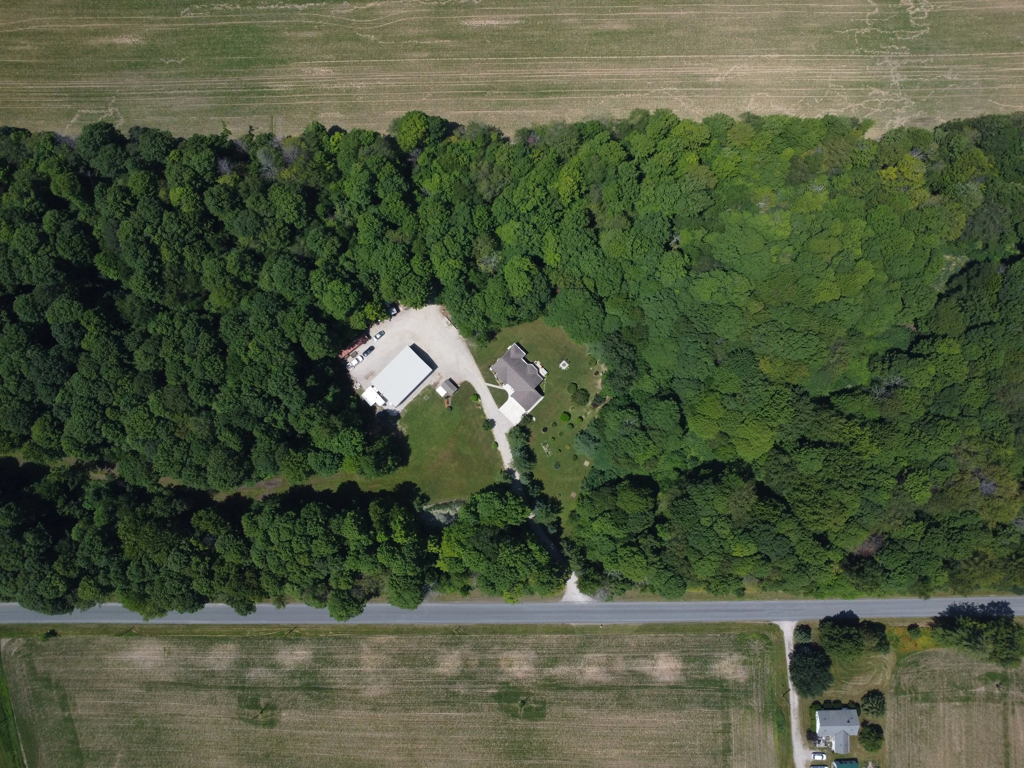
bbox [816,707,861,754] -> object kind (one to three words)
house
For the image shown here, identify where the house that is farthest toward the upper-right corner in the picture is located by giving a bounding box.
[490,343,544,412]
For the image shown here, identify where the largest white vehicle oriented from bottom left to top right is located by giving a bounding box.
[346,355,364,370]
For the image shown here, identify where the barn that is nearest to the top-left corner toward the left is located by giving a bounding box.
[371,346,433,407]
